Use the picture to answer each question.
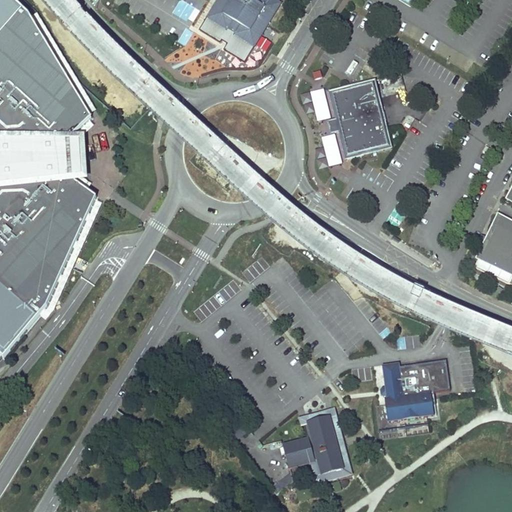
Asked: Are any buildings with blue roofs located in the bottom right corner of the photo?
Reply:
Yes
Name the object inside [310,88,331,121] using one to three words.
tent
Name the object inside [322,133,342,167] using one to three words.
tent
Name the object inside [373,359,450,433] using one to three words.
building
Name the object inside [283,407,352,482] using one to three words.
house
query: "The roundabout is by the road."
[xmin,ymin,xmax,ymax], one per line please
[166,82,304,225]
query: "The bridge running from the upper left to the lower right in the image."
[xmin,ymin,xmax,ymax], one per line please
[39,0,512,356]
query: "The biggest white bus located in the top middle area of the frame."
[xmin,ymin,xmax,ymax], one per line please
[233,74,276,98]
